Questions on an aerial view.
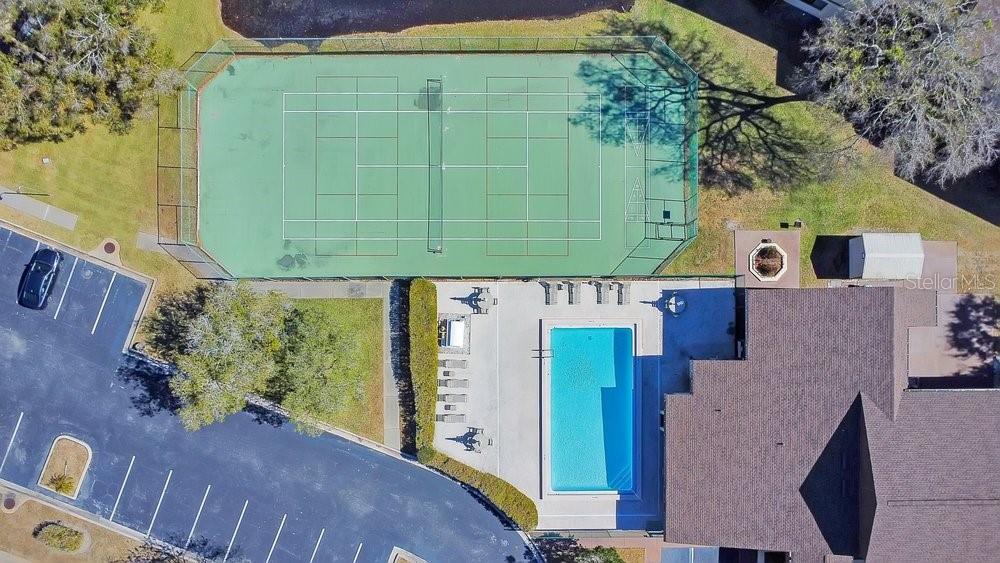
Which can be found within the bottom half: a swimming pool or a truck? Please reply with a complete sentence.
It is a swimming pool that can be seen within the bottom half.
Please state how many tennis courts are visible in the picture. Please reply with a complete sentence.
My tally gives 1 tennis court in this photo.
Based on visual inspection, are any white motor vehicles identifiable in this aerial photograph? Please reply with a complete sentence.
No, there is no white motor vehicle in the image.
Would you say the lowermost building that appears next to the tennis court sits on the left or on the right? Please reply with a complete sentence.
The lowermost building that appears next to the tennis court appears in the right half of the scene.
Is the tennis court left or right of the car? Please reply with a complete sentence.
The tennis court is to the right of the car.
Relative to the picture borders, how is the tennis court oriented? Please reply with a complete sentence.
The tennis court is oriented from side to side.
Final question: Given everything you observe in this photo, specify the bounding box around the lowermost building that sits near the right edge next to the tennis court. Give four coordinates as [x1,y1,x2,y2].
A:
[659,288,1000,563]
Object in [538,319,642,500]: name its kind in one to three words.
swimming pool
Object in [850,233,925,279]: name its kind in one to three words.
shed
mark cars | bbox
[21,249,64,310]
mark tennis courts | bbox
[195,50,688,276]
